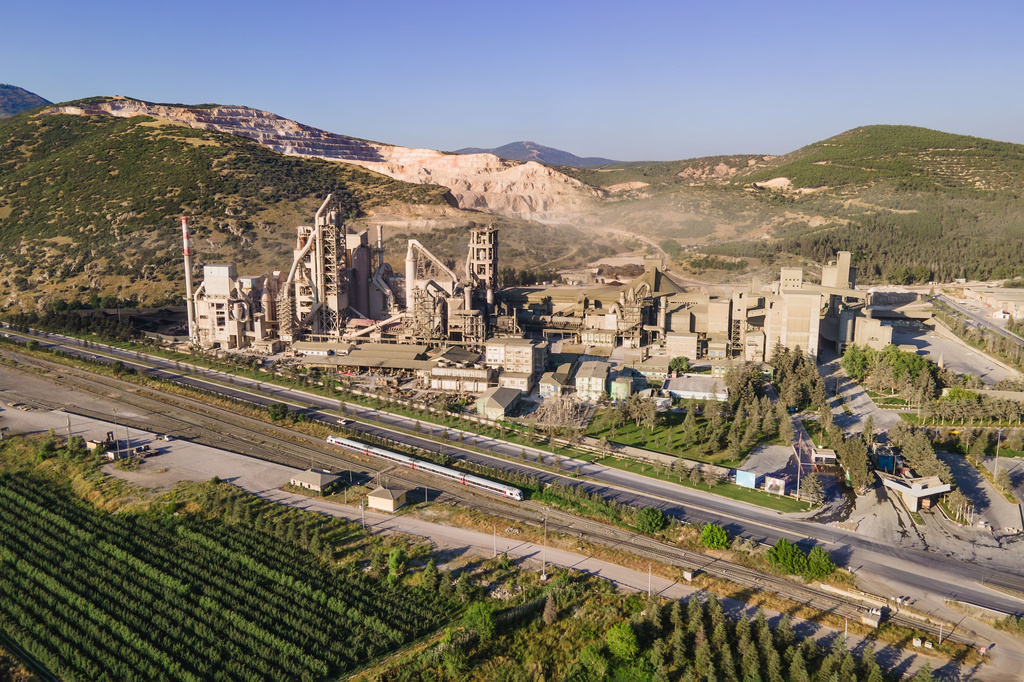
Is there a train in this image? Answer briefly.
Yes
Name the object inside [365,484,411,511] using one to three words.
shed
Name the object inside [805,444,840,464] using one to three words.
building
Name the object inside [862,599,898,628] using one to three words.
shed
